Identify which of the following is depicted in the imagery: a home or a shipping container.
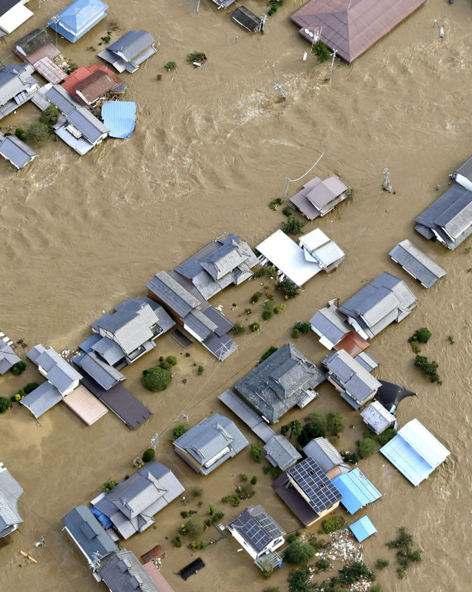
home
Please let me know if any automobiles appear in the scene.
No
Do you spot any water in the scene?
Yes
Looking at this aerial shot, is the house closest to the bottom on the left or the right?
left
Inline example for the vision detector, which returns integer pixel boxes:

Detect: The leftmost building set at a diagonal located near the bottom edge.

[61,506,117,568]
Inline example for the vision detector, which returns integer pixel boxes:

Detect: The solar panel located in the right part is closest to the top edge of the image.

[289,458,340,511]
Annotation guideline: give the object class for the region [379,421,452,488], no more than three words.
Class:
building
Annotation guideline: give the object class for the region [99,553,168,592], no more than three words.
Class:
house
